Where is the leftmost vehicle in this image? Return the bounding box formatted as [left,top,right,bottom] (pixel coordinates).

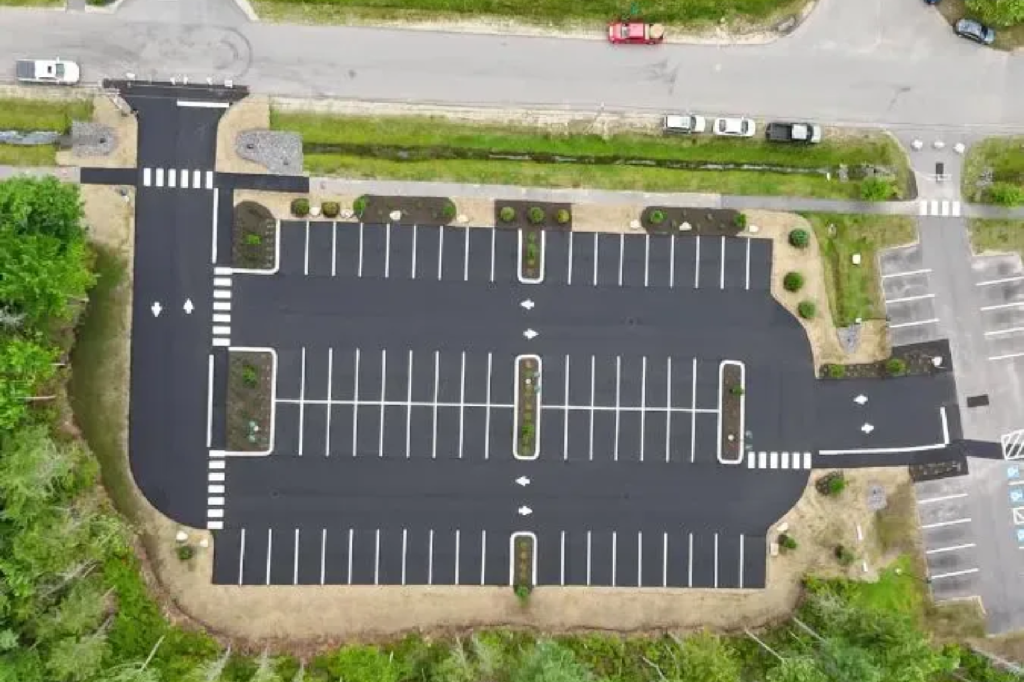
[15,58,82,85]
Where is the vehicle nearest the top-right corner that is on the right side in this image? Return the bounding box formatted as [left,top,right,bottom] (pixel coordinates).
[949,15,994,47]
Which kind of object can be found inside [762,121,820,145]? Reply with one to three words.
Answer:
truck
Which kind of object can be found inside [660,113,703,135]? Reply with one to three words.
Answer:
car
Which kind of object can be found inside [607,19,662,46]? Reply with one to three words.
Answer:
truck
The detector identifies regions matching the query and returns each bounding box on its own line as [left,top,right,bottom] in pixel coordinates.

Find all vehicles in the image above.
[15,58,82,85]
[607,19,662,46]
[712,115,754,137]
[949,15,994,47]
[762,121,820,145]
[660,113,703,135]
